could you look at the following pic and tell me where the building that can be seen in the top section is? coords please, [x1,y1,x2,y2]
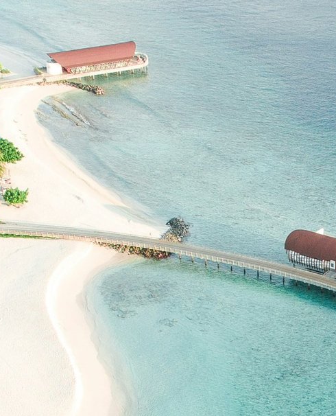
[32,36,150,86]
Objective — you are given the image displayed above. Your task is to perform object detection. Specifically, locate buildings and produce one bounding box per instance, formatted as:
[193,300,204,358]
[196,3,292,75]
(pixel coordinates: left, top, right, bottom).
[287,229,336,280]
[32,36,150,86]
